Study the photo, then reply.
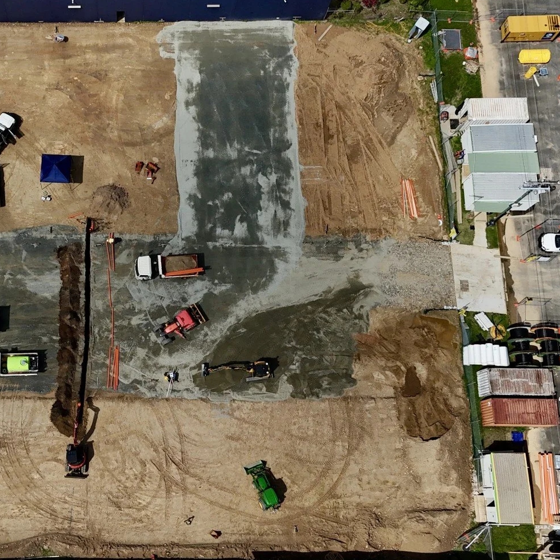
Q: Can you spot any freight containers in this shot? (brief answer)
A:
Yes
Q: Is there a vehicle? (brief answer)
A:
Yes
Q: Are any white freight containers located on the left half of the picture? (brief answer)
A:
No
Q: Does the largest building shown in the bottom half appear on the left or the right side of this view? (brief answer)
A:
right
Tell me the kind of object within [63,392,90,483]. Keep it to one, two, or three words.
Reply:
work vehicle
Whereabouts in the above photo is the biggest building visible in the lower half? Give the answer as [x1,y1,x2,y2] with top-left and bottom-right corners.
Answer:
[474,452,539,527]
